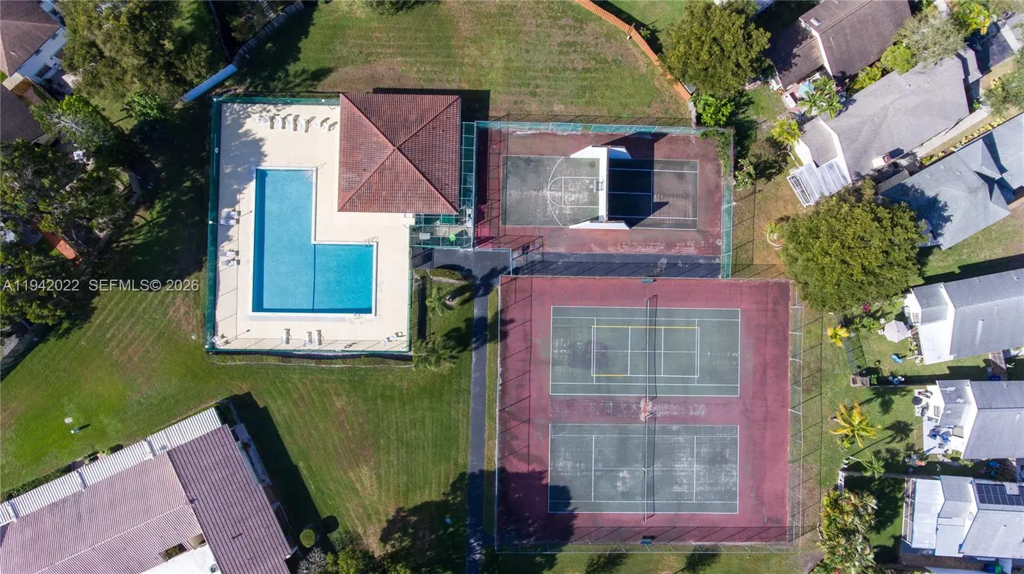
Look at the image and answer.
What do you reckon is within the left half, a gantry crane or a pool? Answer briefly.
pool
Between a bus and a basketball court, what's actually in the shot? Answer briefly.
basketball court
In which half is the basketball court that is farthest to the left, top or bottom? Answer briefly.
top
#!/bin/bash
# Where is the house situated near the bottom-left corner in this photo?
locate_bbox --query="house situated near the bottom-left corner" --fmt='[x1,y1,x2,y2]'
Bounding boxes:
[0,404,301,574]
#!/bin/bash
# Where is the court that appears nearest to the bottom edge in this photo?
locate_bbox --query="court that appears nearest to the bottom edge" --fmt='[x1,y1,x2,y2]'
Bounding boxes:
[498,410,790,543]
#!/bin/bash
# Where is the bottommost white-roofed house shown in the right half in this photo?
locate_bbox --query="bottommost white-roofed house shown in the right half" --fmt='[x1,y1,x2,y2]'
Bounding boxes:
[900,473,1024,558]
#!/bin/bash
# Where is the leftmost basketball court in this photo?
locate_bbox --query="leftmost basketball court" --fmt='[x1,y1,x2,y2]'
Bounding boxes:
[476,129,601,251]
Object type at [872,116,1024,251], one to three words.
house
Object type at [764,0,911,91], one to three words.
house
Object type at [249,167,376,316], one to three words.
swimming pool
